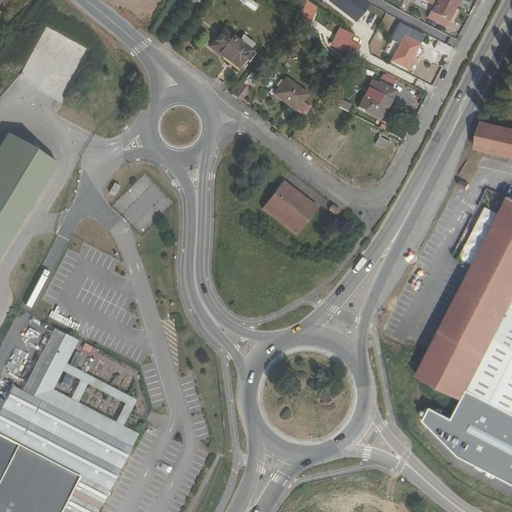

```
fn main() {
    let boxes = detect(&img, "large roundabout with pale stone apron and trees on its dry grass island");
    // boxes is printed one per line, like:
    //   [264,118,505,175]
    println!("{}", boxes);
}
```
[243,331,372,460]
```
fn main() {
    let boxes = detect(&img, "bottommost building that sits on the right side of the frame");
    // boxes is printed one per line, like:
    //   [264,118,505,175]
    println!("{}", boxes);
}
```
[422,392,512,486]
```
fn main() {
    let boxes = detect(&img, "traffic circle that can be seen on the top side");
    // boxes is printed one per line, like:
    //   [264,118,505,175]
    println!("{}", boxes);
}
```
[143,90,218,164]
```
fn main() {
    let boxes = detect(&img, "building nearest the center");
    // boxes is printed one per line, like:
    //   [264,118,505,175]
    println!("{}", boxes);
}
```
[263,180,318,235]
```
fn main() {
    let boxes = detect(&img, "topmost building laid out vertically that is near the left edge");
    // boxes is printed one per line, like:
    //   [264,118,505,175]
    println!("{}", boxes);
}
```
[0,132,57,254]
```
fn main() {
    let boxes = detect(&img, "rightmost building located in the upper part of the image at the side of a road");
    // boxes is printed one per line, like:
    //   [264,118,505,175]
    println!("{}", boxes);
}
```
[473,121,512,161]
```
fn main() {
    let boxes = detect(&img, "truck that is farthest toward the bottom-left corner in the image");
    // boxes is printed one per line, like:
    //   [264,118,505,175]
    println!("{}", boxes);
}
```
[26,268,49,308]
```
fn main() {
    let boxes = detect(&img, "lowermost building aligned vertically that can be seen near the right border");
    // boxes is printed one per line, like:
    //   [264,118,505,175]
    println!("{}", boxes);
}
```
[468,304,512,413]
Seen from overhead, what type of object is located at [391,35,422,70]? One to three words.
house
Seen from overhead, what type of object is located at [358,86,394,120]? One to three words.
house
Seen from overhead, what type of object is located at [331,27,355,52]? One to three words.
building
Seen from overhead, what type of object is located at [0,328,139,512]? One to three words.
building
